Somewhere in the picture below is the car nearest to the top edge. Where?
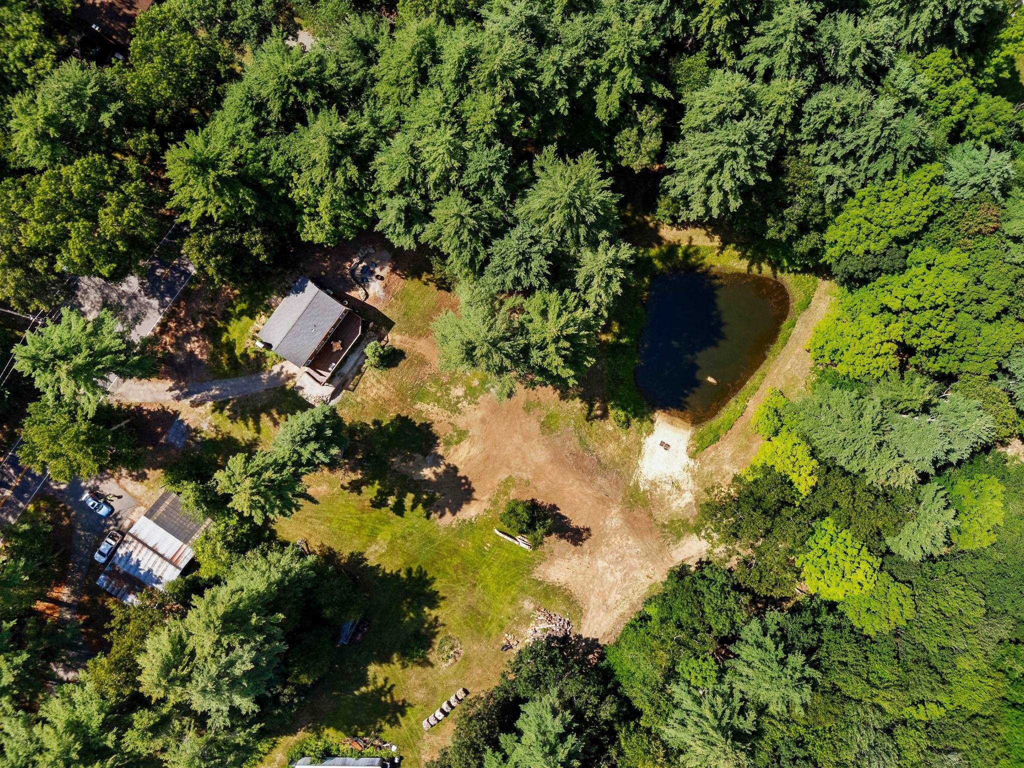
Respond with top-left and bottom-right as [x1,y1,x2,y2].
[85,493,114,516]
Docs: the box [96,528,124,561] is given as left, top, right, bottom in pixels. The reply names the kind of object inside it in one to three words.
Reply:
truck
